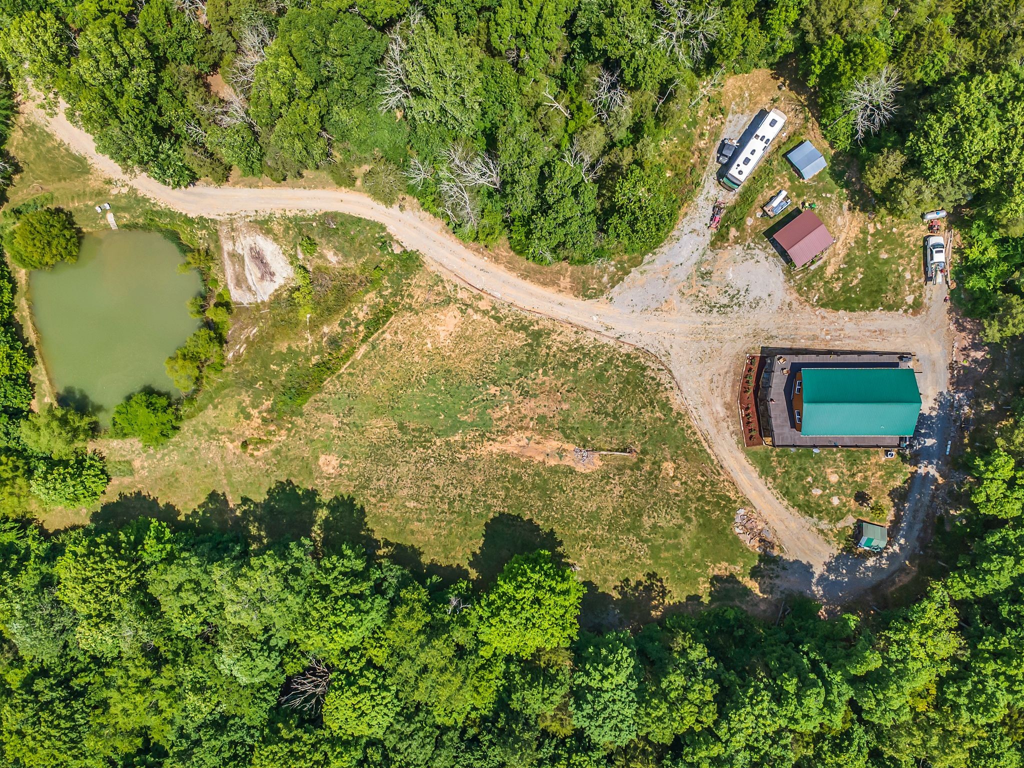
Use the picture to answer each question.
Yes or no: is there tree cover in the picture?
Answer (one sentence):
Yes, some tree cover is visible.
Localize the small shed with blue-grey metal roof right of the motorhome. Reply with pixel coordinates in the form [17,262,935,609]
[784,141,827,182]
